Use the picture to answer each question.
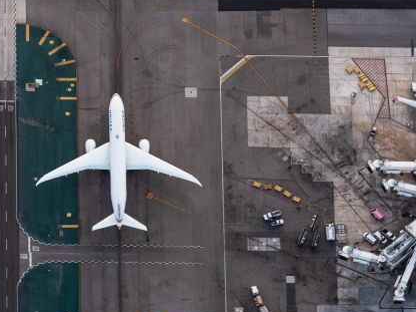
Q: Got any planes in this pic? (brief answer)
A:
Yes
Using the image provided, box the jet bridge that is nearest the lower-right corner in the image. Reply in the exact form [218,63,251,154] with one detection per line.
[394,244,416,305]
